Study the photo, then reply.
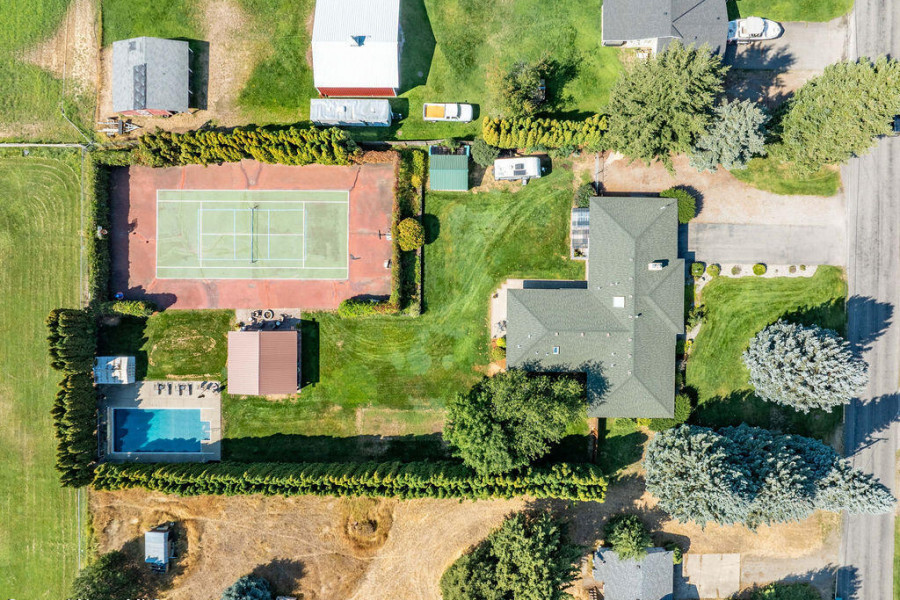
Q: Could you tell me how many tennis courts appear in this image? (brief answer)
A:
1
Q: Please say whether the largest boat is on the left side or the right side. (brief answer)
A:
right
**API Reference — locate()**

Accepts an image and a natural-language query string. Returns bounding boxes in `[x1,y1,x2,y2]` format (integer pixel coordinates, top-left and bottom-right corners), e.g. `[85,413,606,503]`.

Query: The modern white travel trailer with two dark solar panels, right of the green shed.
[493,158,546,188]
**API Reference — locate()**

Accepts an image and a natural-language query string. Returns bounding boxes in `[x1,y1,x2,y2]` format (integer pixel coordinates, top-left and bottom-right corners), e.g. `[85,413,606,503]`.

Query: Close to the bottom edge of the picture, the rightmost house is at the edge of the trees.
[592,542,674,600]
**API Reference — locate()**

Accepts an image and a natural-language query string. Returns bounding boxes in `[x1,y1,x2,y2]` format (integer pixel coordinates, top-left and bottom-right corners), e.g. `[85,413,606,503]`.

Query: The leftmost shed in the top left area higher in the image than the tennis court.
[113,37,194,115]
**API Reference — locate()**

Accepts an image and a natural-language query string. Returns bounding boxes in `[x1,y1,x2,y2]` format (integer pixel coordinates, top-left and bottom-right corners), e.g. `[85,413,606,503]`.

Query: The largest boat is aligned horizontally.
[728,18,784,42]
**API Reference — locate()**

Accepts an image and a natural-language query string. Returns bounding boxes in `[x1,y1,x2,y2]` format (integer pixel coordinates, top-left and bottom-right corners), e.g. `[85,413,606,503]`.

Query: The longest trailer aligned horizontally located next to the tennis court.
[312,99,402,128]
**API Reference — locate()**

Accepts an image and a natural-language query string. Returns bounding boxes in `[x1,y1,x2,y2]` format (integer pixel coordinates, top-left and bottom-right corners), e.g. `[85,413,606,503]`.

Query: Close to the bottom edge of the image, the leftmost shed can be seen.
[145,526,184,572]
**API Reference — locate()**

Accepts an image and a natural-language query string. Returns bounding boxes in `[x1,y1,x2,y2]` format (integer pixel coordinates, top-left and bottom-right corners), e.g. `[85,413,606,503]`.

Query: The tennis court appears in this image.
[108,158,397,312]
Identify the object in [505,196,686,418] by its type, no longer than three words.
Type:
house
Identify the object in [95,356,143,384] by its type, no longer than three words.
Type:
shed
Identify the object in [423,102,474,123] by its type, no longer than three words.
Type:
truck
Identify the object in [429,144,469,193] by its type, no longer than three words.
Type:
shed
